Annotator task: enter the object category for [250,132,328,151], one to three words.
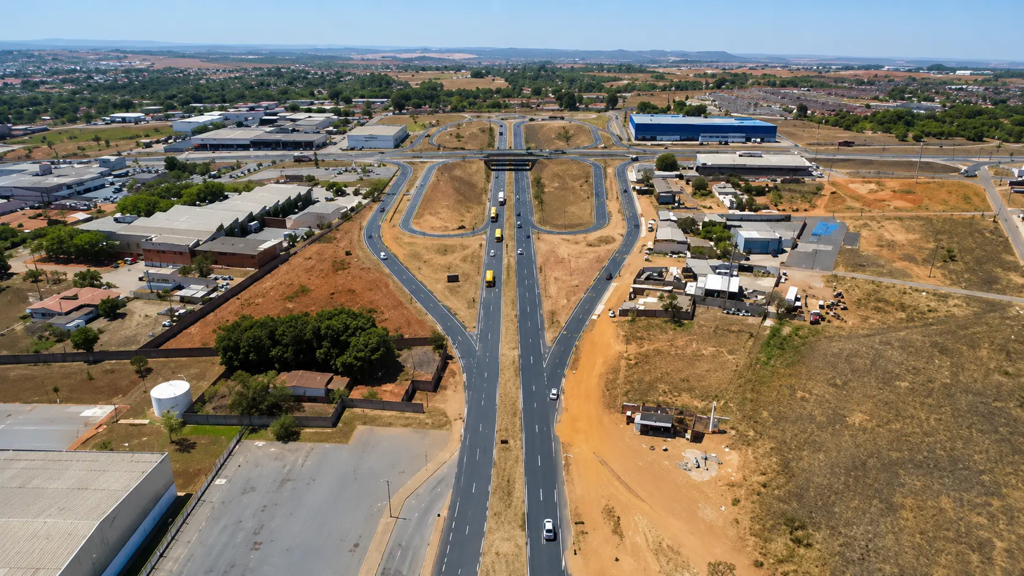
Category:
shed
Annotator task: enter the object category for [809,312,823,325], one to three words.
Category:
vehicle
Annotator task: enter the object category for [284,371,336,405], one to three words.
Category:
house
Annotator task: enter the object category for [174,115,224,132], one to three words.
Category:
building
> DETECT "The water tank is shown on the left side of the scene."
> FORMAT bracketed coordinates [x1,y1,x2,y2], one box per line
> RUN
[151,370,201,418]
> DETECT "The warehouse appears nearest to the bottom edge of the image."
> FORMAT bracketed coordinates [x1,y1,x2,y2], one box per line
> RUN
[0,449,177,576]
